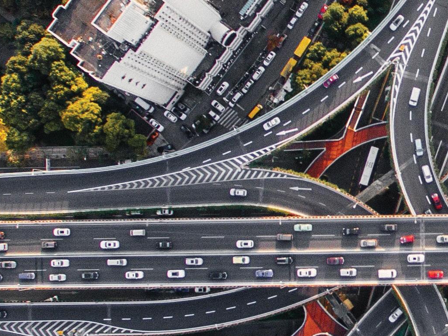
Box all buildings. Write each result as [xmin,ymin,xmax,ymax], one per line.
[240,0,270,24]
[45,0,234,110]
